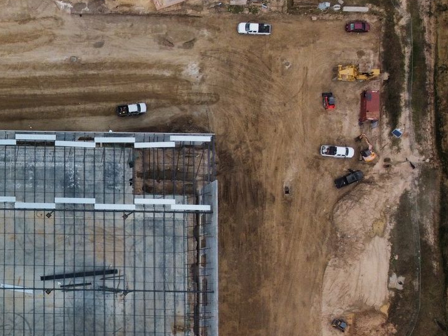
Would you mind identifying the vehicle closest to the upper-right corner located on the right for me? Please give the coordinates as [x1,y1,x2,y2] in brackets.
[345,20,370,34]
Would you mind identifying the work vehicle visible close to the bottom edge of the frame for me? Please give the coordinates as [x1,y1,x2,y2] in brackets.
[327,316,349,332]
